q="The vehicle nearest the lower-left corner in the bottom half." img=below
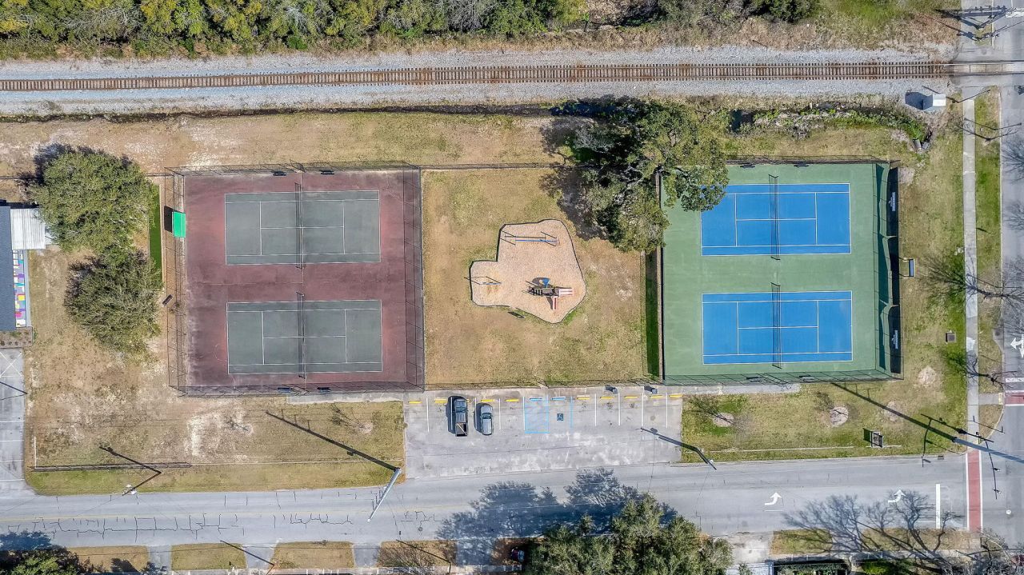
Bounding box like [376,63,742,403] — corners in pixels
[453,399,469,438]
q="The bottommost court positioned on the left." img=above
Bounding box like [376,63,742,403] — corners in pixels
[186,281,425,394]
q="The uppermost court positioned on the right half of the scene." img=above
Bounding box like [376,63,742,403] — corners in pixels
[660,163,892,274]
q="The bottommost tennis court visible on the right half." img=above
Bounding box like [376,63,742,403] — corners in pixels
[662,272,893,385]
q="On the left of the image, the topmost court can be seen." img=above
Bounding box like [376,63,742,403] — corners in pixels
[185,169,424,284]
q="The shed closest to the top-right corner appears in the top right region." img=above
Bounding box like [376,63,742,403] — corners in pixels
[921,93,946,112]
